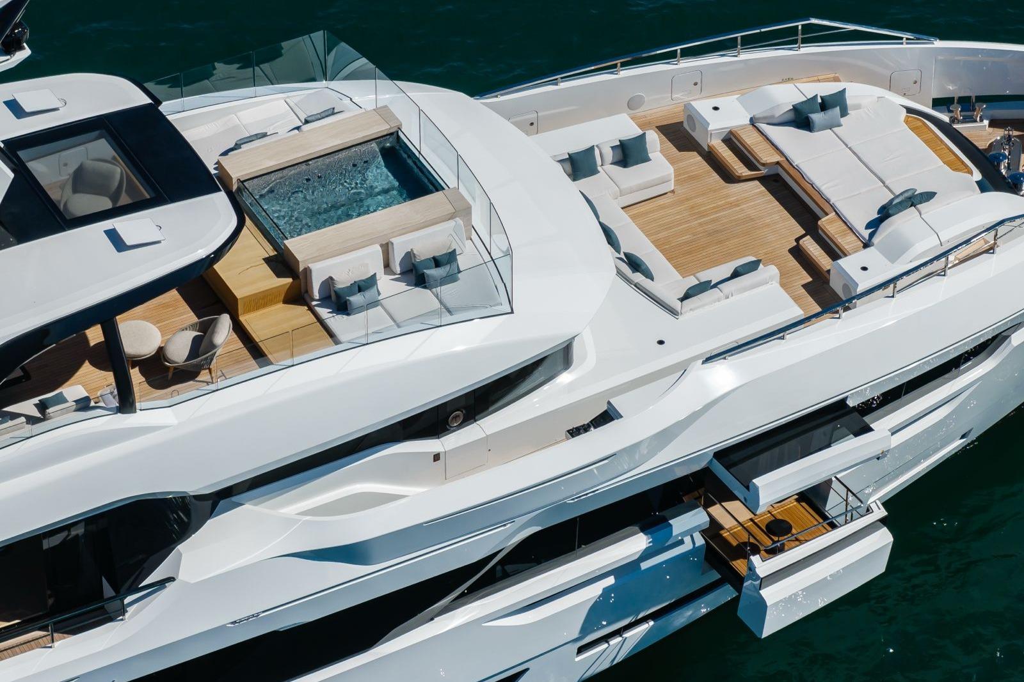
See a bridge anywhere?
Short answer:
No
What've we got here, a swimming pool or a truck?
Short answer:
swimming pool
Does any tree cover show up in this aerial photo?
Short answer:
No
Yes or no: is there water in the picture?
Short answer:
Yes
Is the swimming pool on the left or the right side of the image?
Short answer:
left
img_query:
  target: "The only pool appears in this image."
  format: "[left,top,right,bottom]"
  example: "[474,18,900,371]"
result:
[242,135,451,242]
